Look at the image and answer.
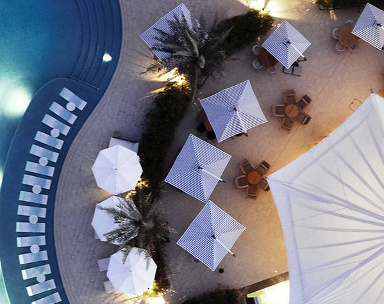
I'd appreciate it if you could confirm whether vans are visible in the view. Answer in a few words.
No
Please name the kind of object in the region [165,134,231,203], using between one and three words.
umbrella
